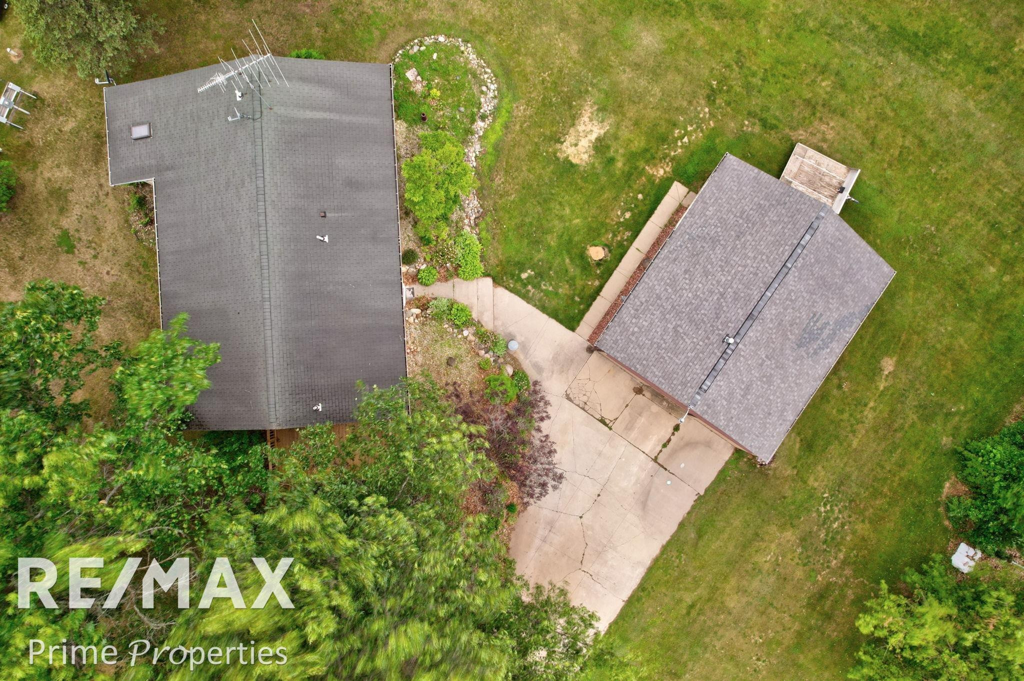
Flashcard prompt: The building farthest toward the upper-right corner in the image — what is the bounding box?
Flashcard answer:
[593,154,898,463]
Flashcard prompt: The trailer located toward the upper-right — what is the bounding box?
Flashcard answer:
[780,142,862,215]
